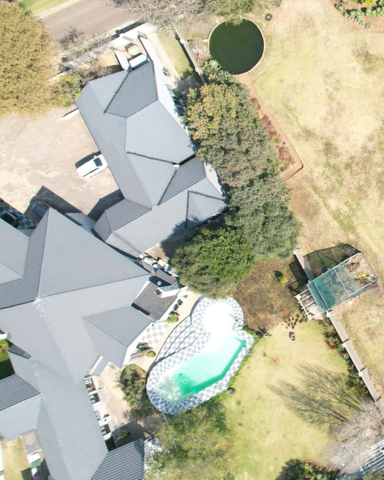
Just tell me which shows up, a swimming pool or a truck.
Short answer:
swimming pool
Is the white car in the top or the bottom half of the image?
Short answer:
top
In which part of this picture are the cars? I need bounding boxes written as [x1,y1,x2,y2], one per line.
[2,209,30,229]
[28,203,47,218]
[77,155,105,177]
